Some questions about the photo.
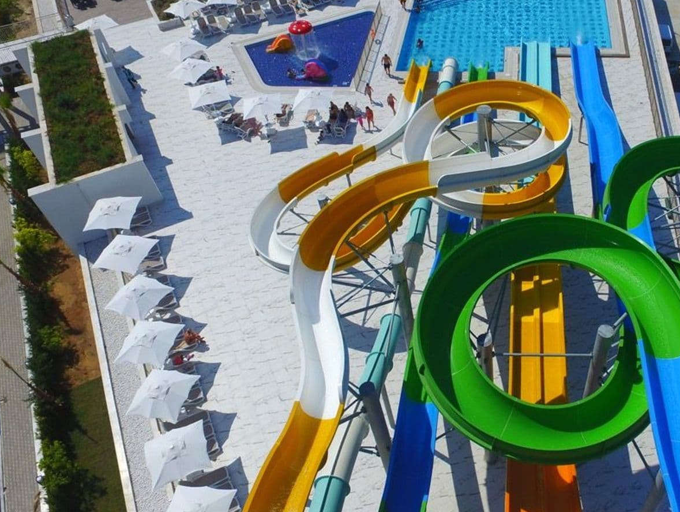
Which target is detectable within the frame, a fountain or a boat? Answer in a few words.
fountain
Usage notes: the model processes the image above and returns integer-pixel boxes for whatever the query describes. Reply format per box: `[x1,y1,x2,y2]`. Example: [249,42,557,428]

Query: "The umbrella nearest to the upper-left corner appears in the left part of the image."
[77,16,119,39]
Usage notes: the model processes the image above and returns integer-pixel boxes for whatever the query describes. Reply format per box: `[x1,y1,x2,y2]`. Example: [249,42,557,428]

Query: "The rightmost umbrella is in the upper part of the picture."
[288,88,335,129]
